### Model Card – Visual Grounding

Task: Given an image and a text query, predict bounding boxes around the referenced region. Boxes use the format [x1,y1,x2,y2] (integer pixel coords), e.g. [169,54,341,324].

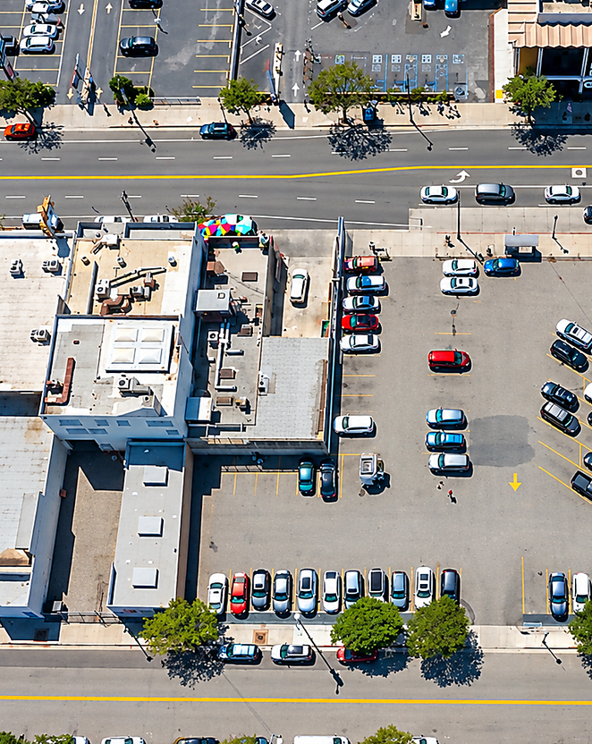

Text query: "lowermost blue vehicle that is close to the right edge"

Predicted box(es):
[549,573,569,620]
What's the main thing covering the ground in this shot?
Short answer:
paved ground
